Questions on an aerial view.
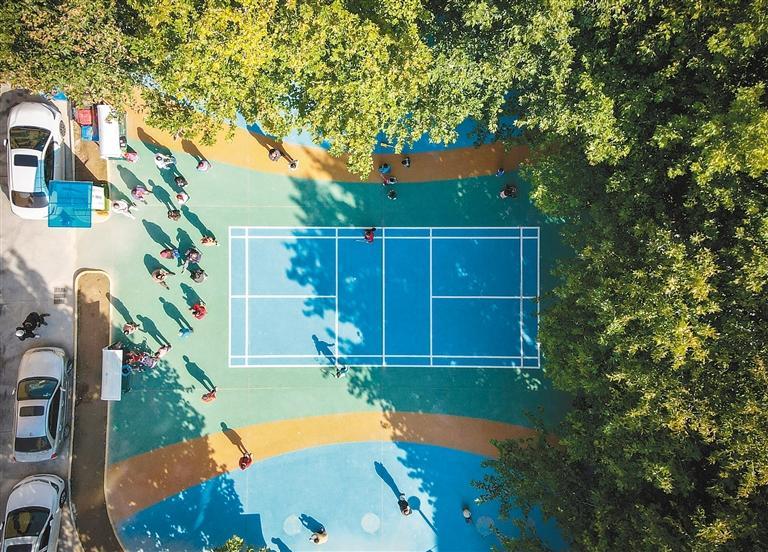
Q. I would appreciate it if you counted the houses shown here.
none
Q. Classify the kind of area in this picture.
sports ground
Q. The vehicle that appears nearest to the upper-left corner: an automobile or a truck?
automobile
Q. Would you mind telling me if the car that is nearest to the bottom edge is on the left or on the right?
left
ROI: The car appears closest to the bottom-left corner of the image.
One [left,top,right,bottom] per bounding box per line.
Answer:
[5,472,66,552]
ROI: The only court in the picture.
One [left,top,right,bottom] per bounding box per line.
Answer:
[229,226,540,367]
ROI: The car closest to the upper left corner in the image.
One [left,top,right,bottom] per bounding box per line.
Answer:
[2,104,63,220]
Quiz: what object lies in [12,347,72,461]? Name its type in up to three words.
car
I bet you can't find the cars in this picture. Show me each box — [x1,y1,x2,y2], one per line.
[5,472,66,552]
[12,347,72,461]
[2,104,63,220]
